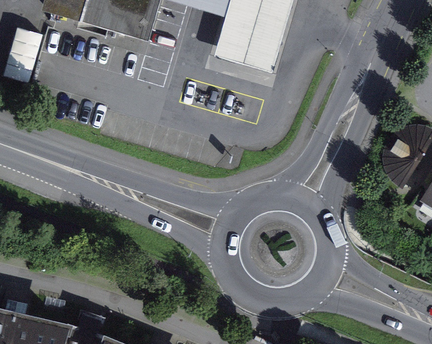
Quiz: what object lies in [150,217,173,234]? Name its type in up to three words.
car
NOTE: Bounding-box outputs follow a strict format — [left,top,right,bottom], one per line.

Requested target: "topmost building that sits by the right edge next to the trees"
[384,124,432,189]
